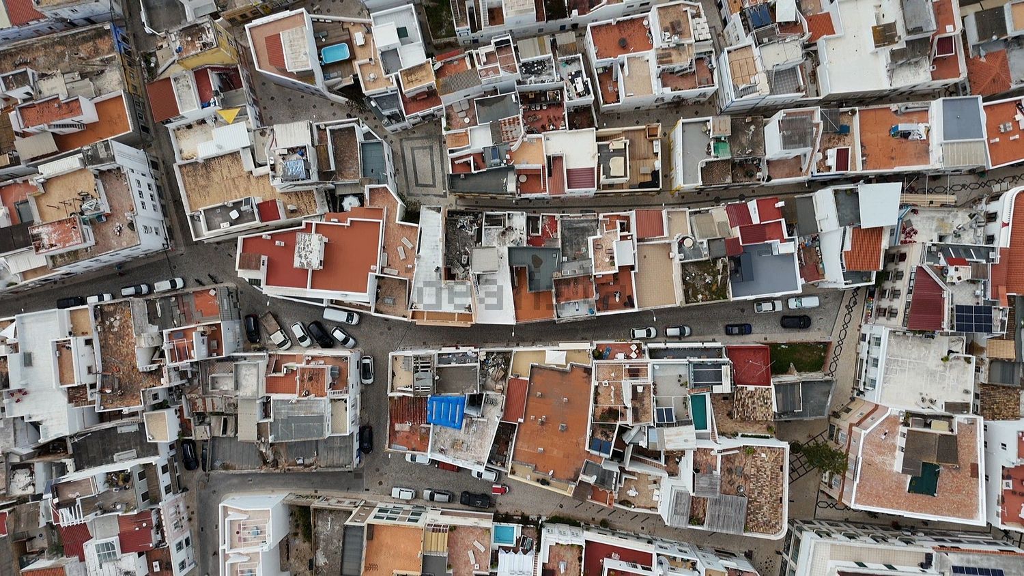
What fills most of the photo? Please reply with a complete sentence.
For the most part, this view shows buildings.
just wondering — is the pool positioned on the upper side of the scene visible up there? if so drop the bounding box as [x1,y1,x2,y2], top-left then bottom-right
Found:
[323,45,348,62]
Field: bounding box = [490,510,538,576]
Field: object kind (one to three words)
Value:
house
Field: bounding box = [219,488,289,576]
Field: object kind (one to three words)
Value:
house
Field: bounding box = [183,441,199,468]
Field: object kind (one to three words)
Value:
car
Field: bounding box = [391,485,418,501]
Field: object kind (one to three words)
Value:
vehicle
